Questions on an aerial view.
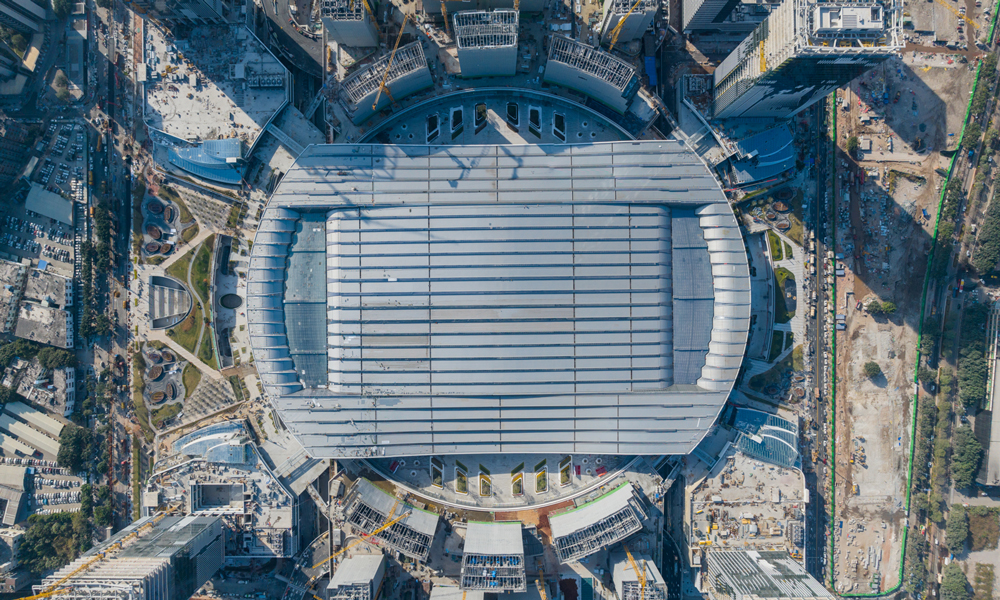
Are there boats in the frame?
No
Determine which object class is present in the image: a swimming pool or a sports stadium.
sports stadium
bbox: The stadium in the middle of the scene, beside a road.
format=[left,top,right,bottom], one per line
[246,139,752,460]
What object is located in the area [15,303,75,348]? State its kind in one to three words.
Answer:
building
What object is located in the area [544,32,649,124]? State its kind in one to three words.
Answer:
building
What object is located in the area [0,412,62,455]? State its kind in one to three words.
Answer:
shed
